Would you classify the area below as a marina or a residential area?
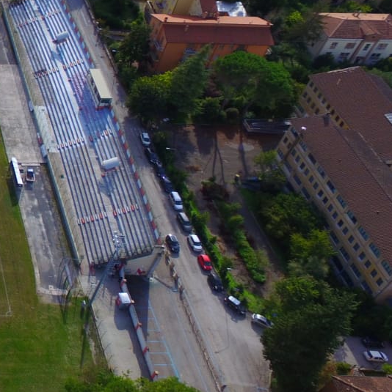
residential area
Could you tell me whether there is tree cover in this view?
Yes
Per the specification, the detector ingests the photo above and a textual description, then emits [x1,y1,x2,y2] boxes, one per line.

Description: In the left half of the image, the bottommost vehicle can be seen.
[108,291,138,309]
